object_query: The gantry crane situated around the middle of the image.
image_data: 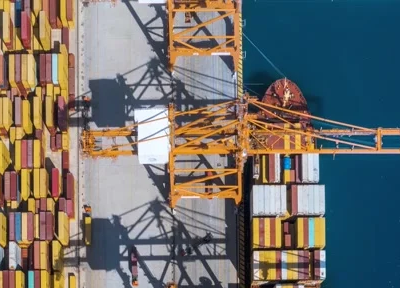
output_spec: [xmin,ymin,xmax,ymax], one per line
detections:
[79,86,400,214]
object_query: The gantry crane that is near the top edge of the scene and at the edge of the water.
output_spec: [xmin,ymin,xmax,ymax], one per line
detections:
[134,0,249,77]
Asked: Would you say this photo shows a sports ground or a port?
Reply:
port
